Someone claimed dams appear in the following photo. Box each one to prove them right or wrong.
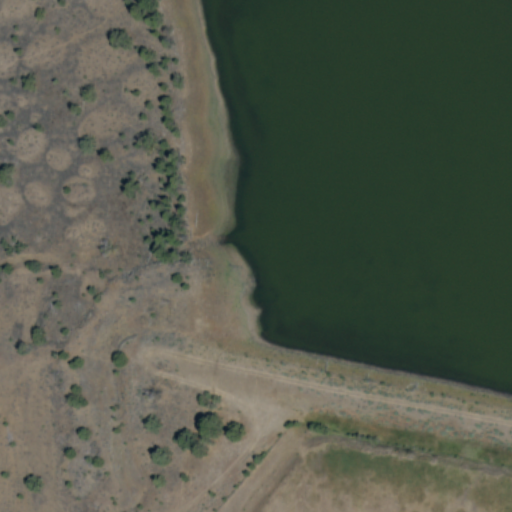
[138,336,512,446]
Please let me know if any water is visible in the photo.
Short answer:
Yes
